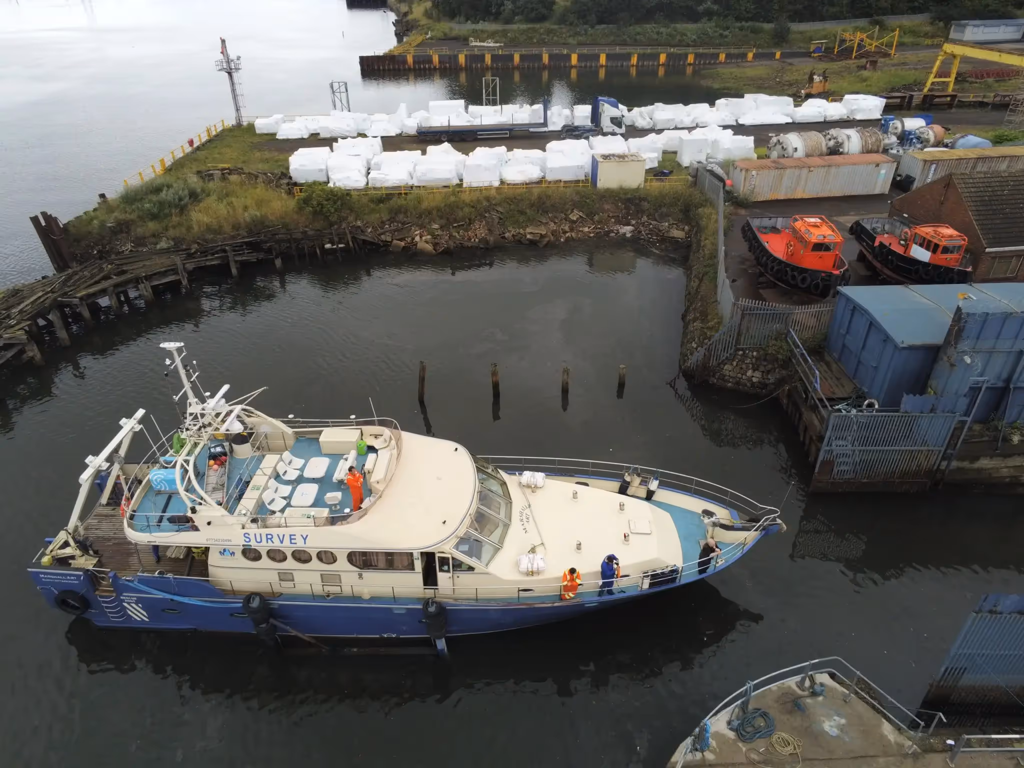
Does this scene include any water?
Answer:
Yes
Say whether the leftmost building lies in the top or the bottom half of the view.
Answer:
top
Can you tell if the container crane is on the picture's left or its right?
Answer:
right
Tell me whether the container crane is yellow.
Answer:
Yes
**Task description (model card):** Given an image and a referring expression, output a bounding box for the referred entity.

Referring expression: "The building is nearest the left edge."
[592,152,648,187]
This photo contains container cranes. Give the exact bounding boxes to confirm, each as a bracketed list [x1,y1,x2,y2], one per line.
[928,41,1024,89]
